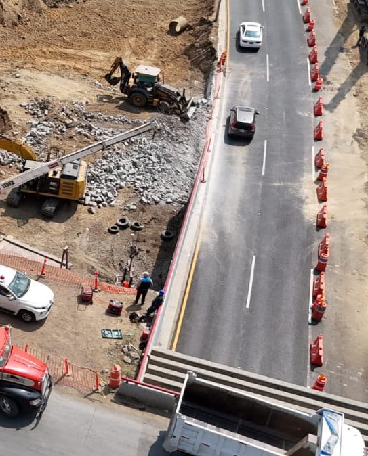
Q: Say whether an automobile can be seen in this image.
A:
Yes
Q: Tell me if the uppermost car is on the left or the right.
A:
right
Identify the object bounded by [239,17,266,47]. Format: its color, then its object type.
white car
